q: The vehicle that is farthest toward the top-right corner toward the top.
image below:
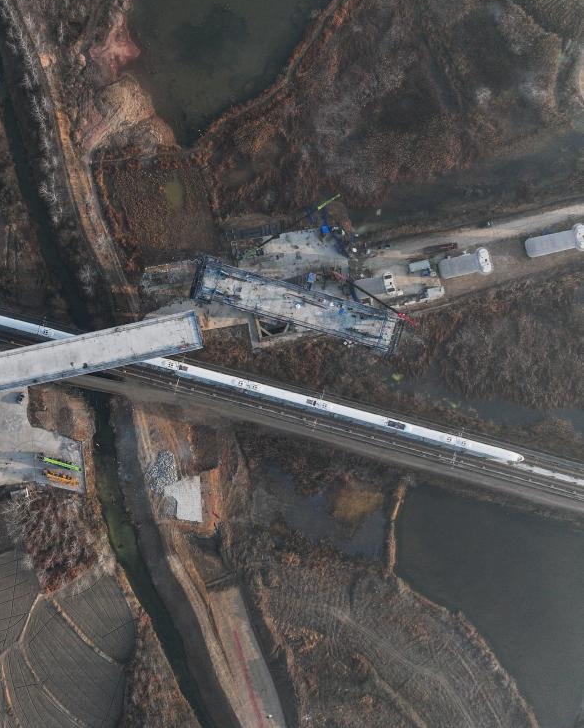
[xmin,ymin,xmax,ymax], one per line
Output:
[426,241,461,254]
